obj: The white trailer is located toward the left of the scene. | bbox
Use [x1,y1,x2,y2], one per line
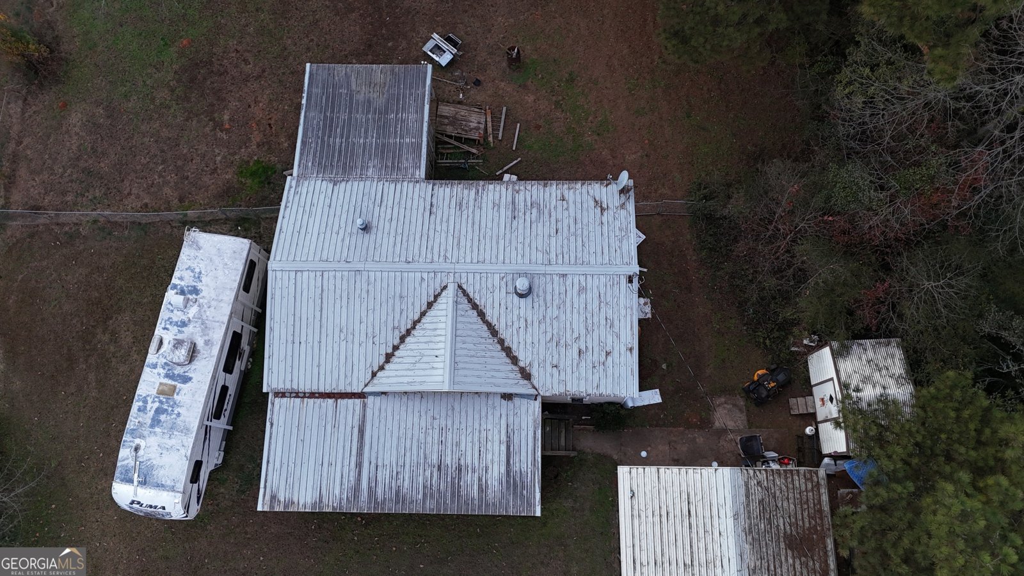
[114,228,269,521]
